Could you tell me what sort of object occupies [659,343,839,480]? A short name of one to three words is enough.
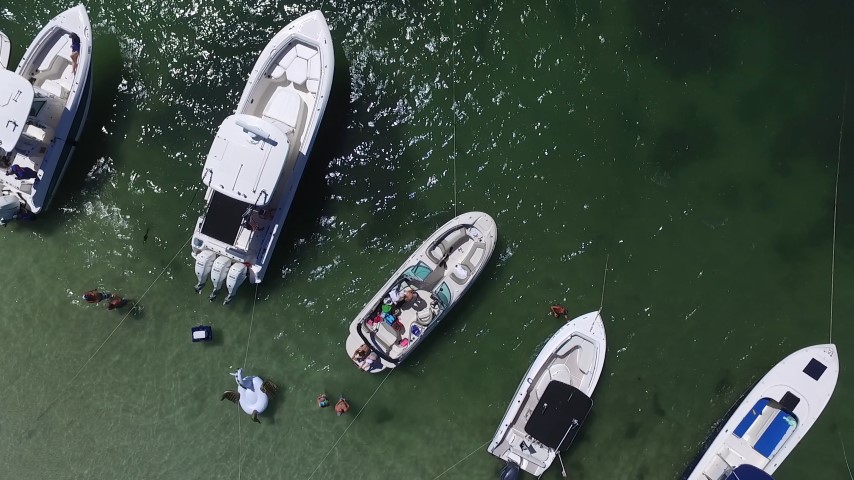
boat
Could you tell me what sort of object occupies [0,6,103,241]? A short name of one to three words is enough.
boat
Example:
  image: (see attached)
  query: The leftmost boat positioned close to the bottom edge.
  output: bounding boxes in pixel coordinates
[488,312,607,478]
